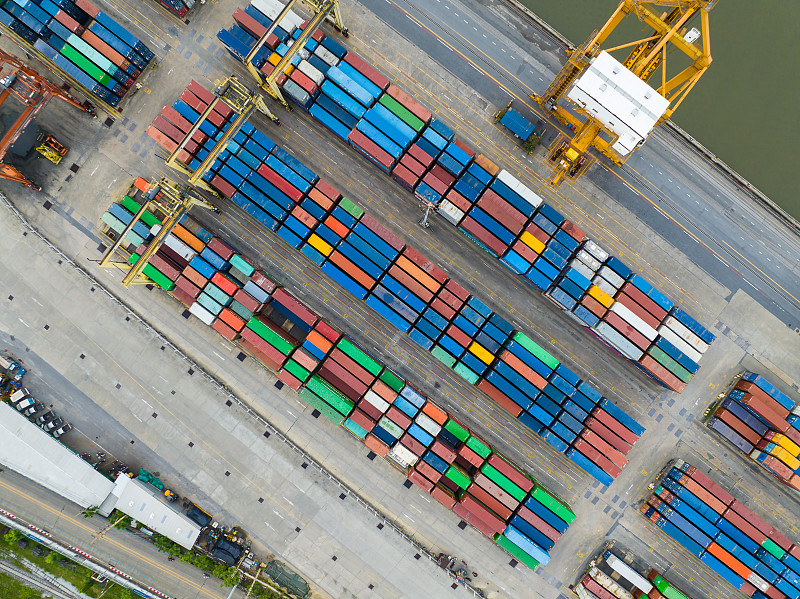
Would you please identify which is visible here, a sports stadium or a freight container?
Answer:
freight container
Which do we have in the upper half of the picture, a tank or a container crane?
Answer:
container crane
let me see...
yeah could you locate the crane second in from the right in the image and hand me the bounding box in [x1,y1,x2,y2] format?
[242,0,352,113]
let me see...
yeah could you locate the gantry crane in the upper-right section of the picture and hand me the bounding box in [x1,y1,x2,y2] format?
[529,0,723,194]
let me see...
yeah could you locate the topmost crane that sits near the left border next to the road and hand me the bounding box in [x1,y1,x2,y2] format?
[0,59,102,197]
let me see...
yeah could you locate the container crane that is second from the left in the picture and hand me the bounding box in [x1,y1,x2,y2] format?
[96,173,223,291]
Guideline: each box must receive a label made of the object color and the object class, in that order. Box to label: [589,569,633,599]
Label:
white shipping container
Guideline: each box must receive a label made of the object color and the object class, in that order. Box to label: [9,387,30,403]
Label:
white vehicle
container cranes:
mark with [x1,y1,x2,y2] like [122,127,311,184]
[163,66,284,202]
[96,173,223,291]
[0,59,102,197]
[529,0,723,194]
[242,0,352,113]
